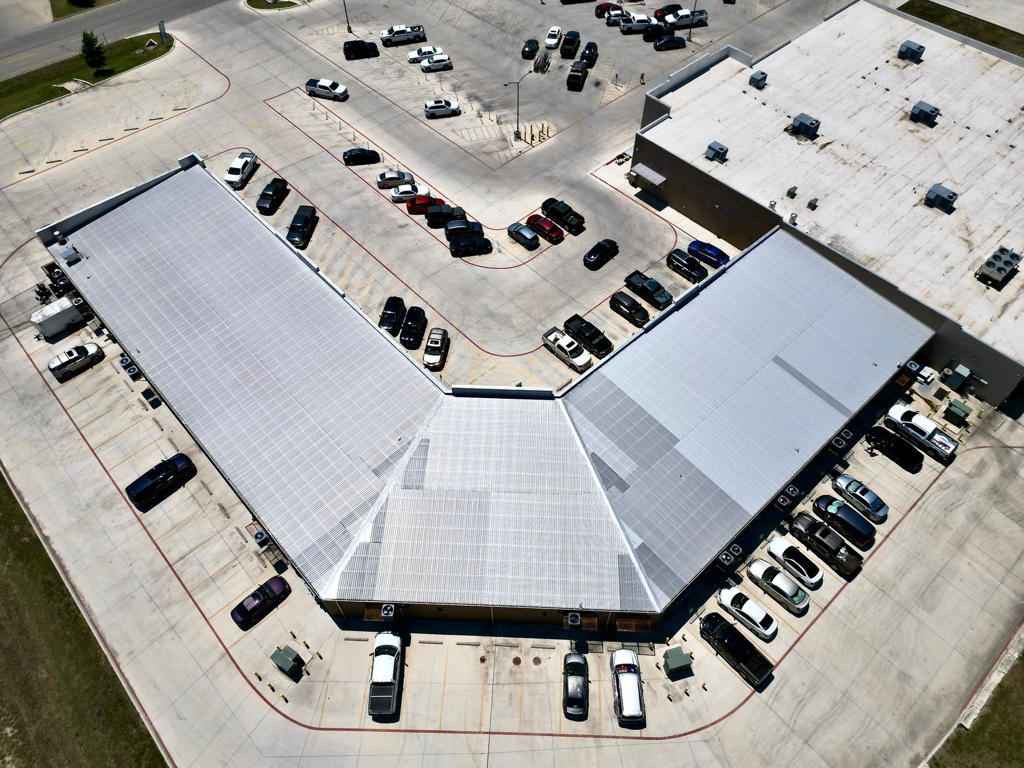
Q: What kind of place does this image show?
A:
parking lot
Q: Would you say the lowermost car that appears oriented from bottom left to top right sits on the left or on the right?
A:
left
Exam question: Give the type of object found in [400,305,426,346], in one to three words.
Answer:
car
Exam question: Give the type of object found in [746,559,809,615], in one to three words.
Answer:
car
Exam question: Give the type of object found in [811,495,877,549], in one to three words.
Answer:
vehicle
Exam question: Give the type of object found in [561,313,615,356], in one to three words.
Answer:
truck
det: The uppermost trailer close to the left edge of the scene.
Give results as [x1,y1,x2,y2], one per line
[31,293,85,329]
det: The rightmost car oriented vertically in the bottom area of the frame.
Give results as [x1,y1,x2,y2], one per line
[611,649,645,722]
